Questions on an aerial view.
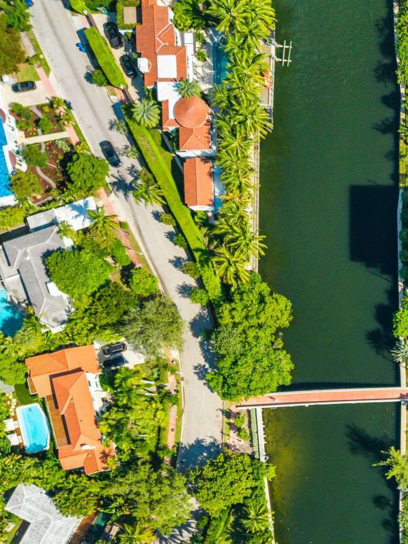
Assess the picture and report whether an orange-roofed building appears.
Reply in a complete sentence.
Yes, an orange-roofed building appears in the view.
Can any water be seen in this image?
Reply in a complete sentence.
Yes, some water is visible.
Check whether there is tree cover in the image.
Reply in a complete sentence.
Yes, there is tree cover in the image.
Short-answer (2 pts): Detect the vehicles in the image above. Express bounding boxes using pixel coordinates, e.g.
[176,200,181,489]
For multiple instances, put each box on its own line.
[100,342,126,355]
[26,0,37,11]
[11,79,37,92]
[102,141,119,166]
[103,355,127,367]
[119,55,137,78]
[103,21,123,50]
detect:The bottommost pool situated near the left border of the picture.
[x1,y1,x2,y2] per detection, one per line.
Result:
[14,400,52,453]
